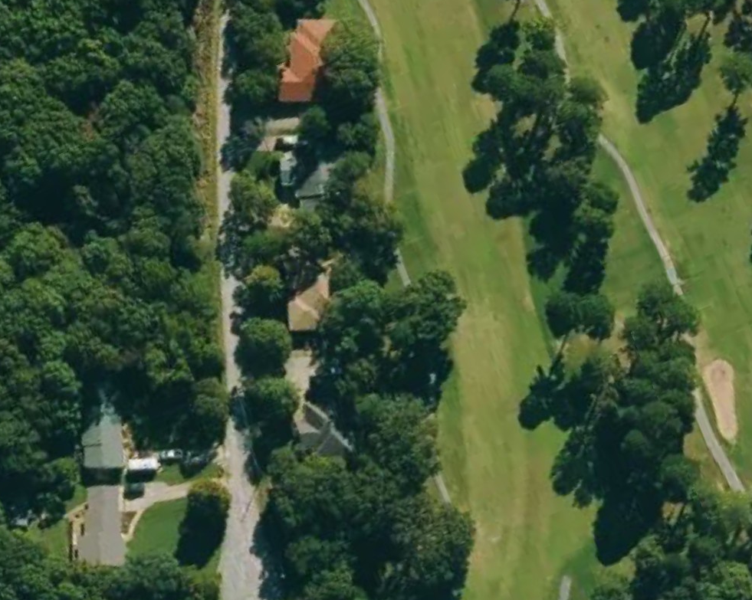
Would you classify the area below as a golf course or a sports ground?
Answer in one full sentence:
What you see here is a golf course.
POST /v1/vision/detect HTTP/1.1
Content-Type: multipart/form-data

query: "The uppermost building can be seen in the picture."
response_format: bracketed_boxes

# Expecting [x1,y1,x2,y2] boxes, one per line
[279,13,340,104]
